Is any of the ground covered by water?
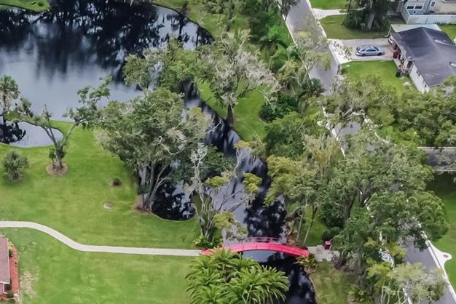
Yes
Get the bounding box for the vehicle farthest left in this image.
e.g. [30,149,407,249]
[355,42,387,56]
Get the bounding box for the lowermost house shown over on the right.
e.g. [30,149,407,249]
[390,25,456,101]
